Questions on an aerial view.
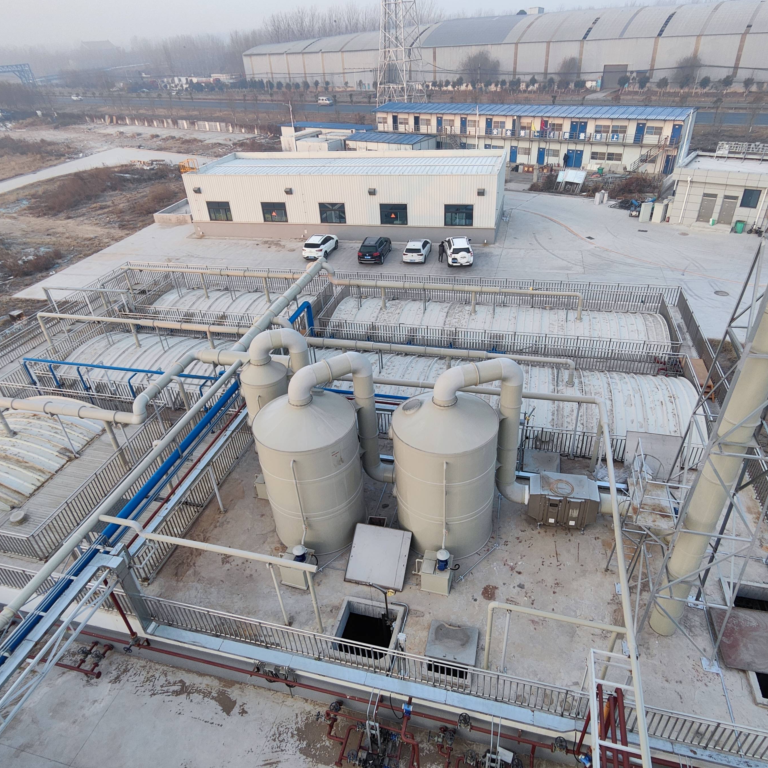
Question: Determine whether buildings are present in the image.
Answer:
Yes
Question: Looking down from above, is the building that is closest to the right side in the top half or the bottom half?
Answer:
top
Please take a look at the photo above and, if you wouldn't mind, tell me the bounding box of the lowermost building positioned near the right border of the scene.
[671,138,768,232]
